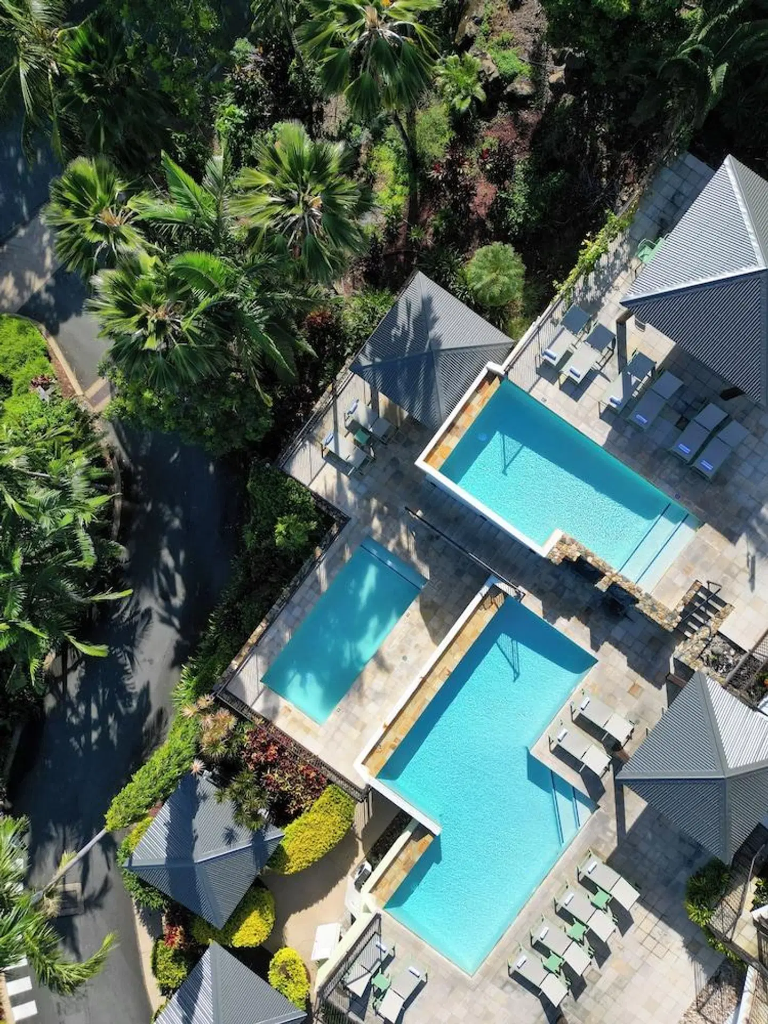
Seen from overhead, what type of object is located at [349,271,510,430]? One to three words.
gazebo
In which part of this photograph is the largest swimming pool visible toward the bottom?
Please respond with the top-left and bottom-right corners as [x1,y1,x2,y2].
[354,574,600,978]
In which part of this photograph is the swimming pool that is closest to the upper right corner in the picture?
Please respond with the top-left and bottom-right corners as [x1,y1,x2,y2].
[413,364,700,593]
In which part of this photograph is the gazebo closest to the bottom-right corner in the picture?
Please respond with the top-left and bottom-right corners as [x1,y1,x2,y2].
[609,669,768,864]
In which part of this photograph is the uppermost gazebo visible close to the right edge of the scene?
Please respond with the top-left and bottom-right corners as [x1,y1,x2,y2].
[618,152,768,408]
